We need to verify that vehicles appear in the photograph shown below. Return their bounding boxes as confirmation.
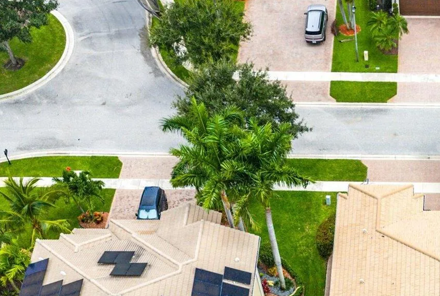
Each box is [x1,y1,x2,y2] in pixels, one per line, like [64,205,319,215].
[305,3,328,39]
[139,183,171,217]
